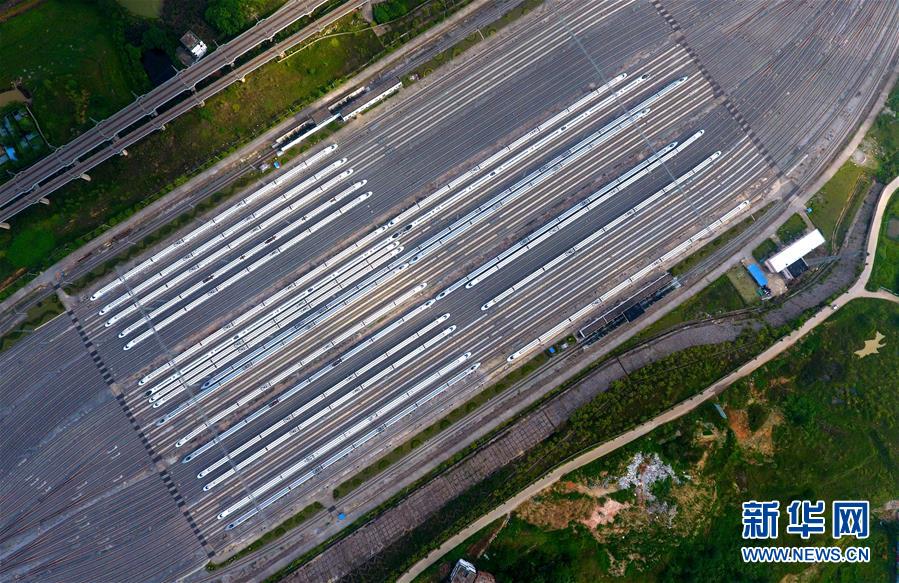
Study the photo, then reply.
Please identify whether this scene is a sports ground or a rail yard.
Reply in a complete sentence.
The picture captures a rail yard.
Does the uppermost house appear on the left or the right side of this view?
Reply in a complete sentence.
The uppermost house is on the left side of the image.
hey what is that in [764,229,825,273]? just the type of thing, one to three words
building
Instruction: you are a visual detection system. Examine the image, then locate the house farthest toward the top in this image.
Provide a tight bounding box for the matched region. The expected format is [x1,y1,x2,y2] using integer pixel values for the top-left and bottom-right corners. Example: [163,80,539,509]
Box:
[180,31,205,57]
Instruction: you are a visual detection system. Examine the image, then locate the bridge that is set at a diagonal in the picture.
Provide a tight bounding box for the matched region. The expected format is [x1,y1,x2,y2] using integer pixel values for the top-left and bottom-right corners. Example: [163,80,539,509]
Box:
[0,0,324,209]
